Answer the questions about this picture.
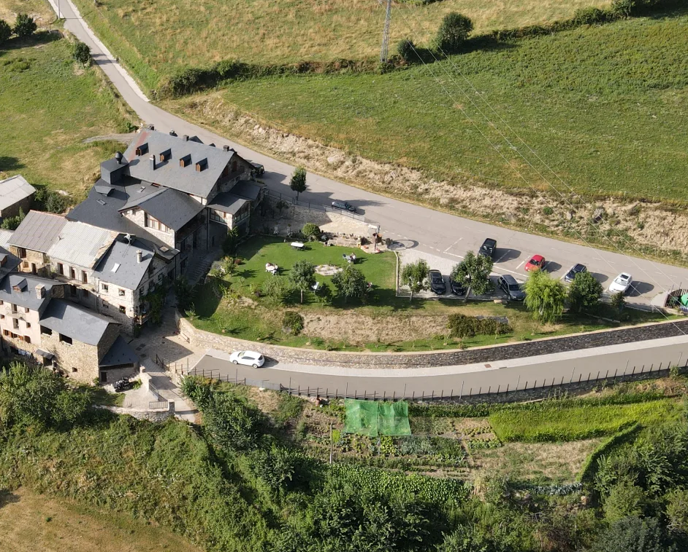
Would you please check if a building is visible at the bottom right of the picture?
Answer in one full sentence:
No, no building can be made out at the bottom right of the picture.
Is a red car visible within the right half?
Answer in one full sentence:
Yes, a red car is visible within the right half.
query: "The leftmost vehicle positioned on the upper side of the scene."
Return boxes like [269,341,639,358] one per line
[245,154,267,176]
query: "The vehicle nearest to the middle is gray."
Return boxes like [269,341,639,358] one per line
[330,195,361,213]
